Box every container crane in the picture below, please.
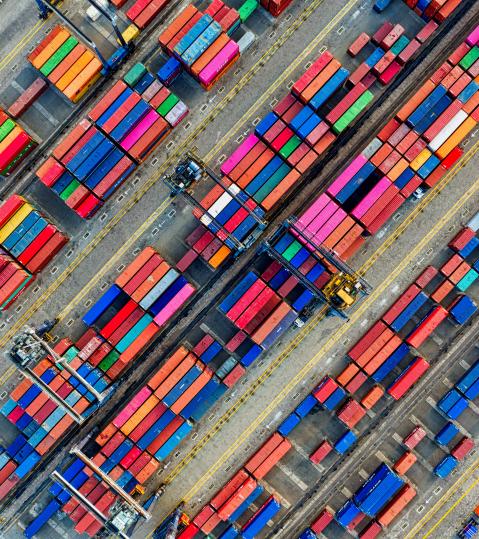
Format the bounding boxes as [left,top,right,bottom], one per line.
[151,501,187,539]
[256,222,365,318]
[36,0,136,79]
[2,316,123,424]
[52,424,166,539]
[166,151,267,256]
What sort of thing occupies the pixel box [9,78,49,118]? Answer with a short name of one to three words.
shipping container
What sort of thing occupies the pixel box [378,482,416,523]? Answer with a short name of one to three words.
shipping container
